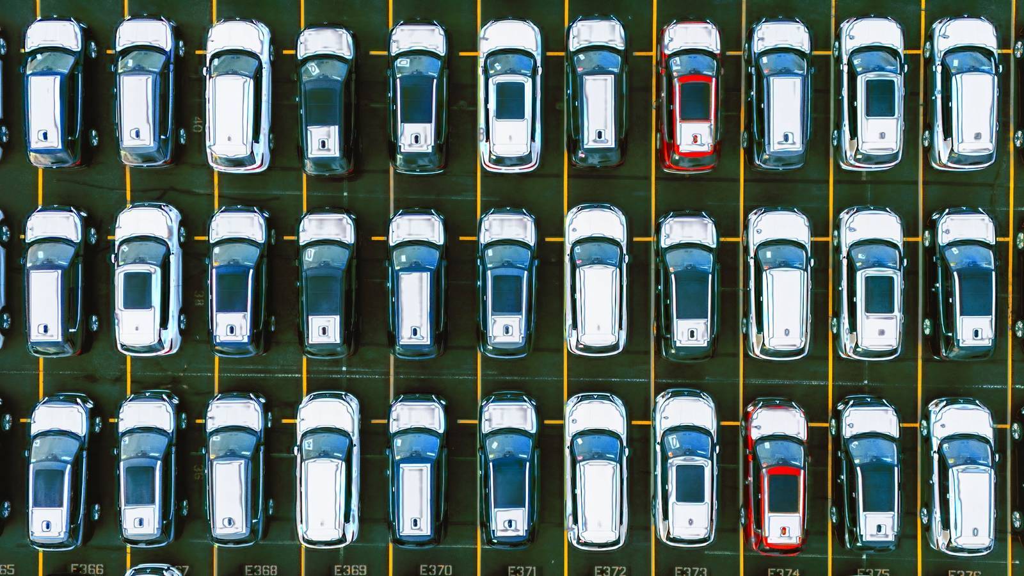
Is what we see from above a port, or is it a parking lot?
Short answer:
parking lot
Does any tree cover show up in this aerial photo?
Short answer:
No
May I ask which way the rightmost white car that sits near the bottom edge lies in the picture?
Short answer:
vertically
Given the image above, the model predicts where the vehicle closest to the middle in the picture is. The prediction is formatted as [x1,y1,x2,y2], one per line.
[476,206,540,360]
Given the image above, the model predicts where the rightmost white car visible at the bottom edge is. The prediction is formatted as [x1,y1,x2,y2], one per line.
[922,398,998,553]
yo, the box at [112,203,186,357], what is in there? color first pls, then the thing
white car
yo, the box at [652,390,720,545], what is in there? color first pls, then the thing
white car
